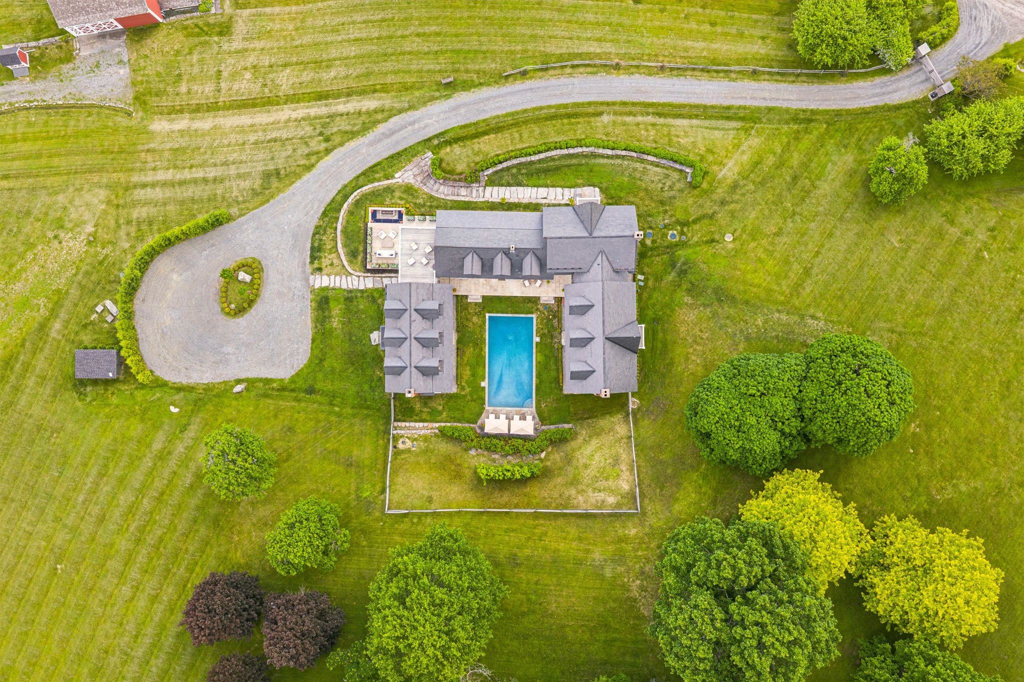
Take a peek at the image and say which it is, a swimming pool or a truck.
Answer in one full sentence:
Of the two, only a swimming pool appears.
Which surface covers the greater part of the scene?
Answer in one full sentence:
What you mostly see from above here is grass.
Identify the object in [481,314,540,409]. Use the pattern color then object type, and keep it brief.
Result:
blue swimming pool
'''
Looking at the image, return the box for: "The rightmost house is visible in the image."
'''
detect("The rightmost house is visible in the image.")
[434,197,645,398]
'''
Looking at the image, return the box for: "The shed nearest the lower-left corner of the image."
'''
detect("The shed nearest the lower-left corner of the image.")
[74,350,128,378]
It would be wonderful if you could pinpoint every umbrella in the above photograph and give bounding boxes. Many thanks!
[485,419,508,433]
[510,421,534,435]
